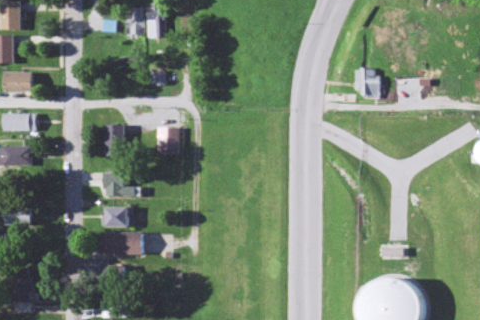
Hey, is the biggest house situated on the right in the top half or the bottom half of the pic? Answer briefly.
top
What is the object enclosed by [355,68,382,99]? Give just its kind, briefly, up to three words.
house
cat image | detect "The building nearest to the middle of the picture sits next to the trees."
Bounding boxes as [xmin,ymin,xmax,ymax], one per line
[156,127,182,156]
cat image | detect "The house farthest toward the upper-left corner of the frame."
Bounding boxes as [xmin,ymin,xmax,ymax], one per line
[0,1,23,30]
